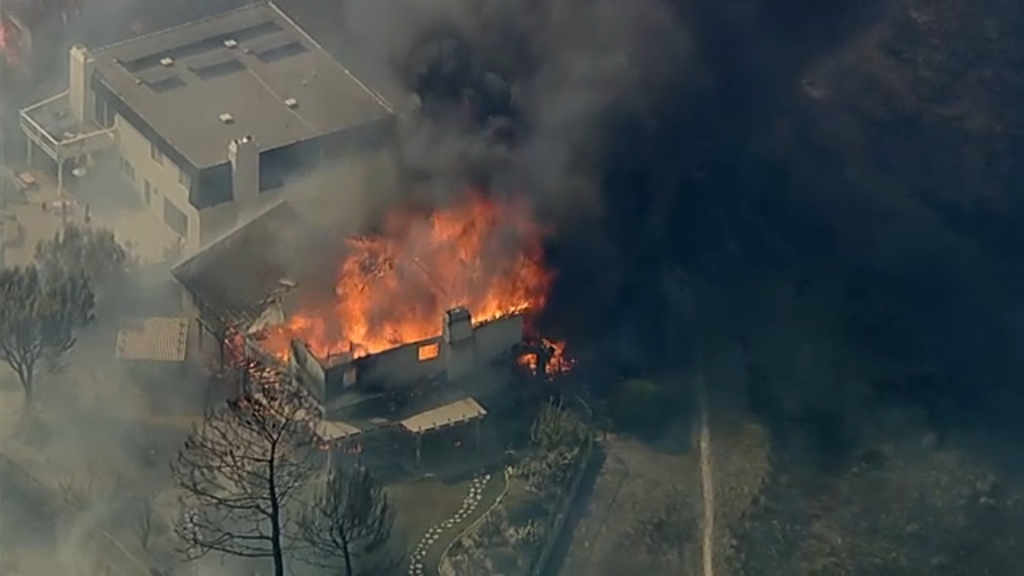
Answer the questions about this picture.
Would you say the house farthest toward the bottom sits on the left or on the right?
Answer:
left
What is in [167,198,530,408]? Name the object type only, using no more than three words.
house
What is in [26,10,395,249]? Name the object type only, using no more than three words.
house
